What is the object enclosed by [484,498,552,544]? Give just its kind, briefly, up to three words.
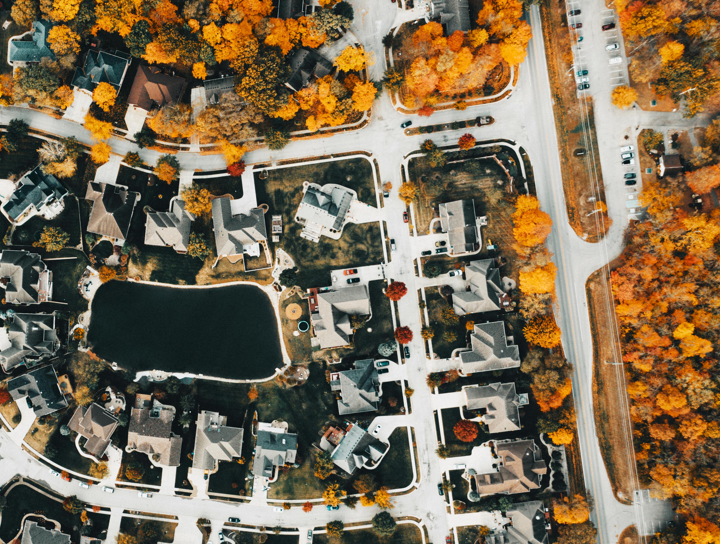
house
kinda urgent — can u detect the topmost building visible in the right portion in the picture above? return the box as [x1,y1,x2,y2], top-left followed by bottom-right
[428,0,471,36]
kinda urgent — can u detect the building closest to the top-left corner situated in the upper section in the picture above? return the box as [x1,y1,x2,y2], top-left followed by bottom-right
[10,20,58,64]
